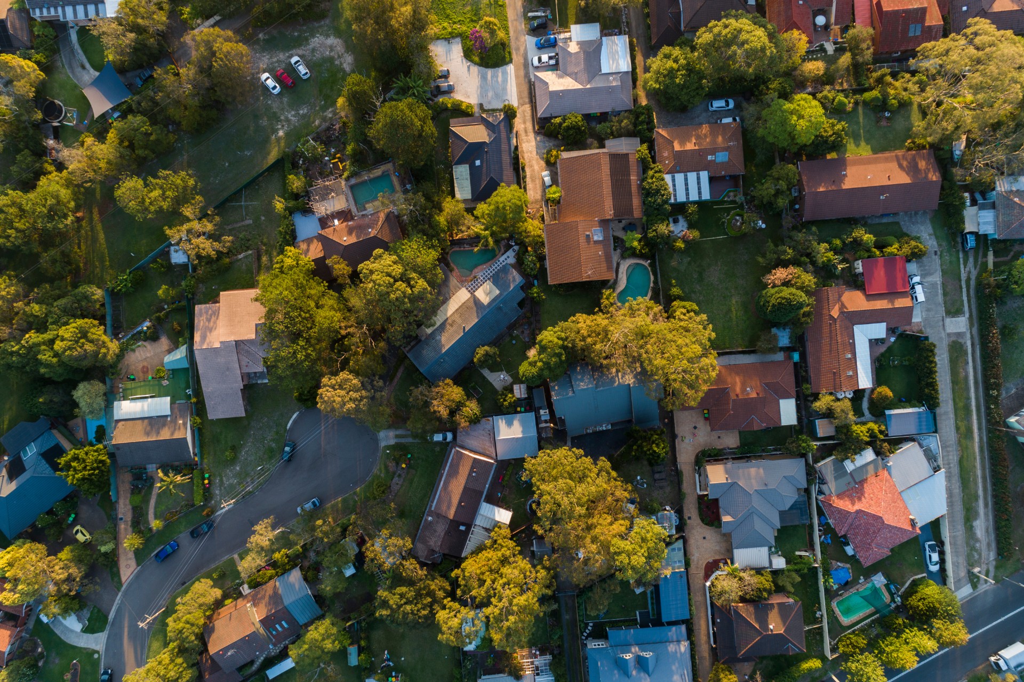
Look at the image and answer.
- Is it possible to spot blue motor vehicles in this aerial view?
Yes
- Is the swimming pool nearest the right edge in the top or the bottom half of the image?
bottom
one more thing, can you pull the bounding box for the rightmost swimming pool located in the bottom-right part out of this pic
[833,579,890,625]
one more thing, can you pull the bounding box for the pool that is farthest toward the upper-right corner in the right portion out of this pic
[616,260,653,306]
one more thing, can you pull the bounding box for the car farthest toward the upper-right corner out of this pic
[962,231,978,250]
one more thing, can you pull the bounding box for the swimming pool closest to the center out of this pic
[447,246,503,278]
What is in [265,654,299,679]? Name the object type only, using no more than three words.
shed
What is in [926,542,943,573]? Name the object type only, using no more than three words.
vehicle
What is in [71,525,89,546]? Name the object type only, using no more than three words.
car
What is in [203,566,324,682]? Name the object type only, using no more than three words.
house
